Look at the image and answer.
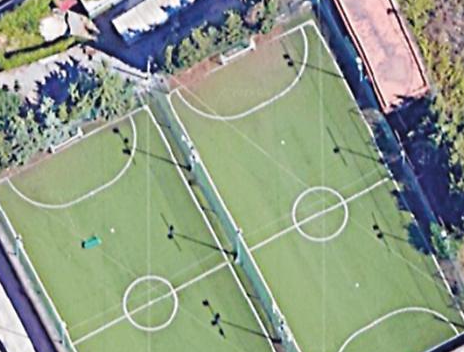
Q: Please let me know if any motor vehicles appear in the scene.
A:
No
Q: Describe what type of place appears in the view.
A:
sports ground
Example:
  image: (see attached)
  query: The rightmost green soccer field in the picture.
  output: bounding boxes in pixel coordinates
[149,17,464,352]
